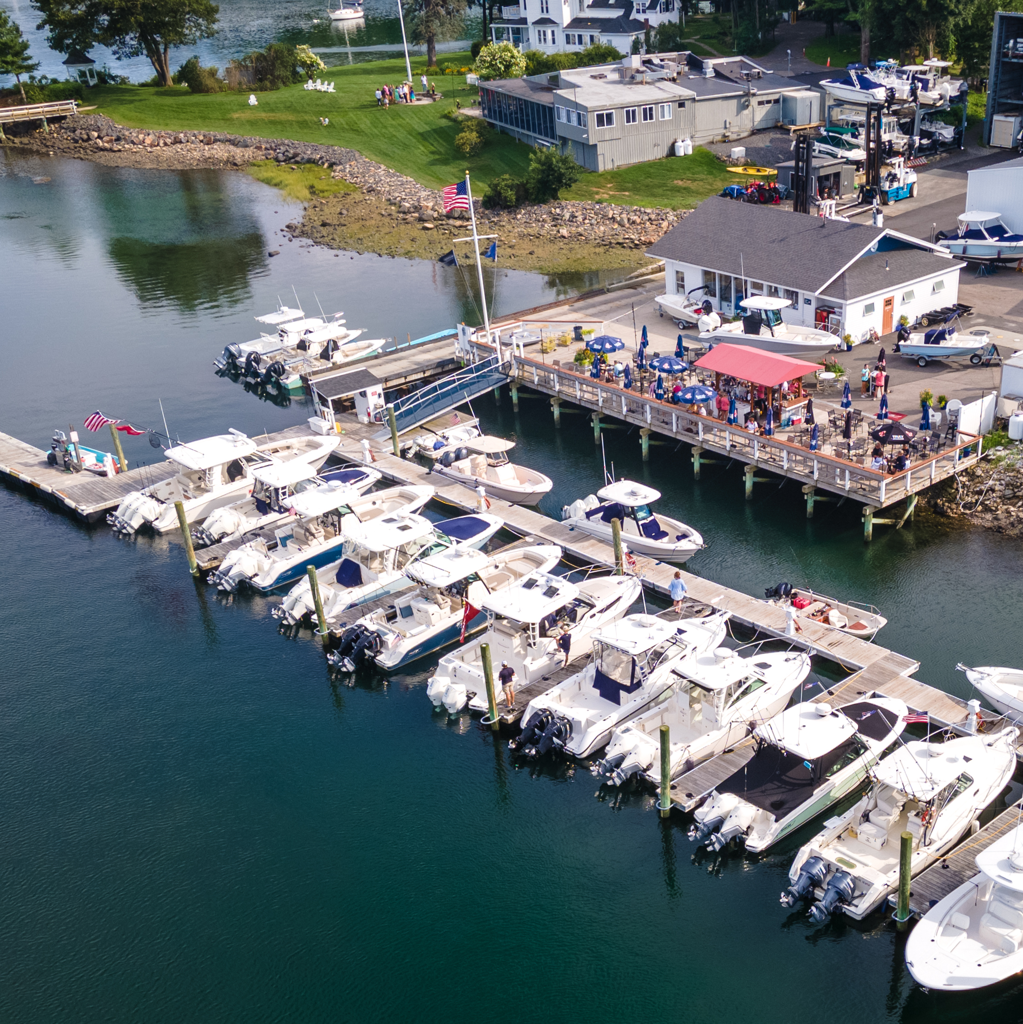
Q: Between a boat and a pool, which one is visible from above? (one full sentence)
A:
The one in the frame is a boat.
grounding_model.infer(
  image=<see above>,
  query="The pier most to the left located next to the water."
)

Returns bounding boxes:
[0,429,100,502]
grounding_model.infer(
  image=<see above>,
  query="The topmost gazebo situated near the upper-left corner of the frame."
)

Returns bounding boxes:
[56,39,93,85]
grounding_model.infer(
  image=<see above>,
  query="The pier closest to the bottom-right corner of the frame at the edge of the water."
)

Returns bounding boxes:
[875,841,973,940]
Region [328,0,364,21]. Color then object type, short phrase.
white boat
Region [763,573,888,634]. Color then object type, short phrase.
white boat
